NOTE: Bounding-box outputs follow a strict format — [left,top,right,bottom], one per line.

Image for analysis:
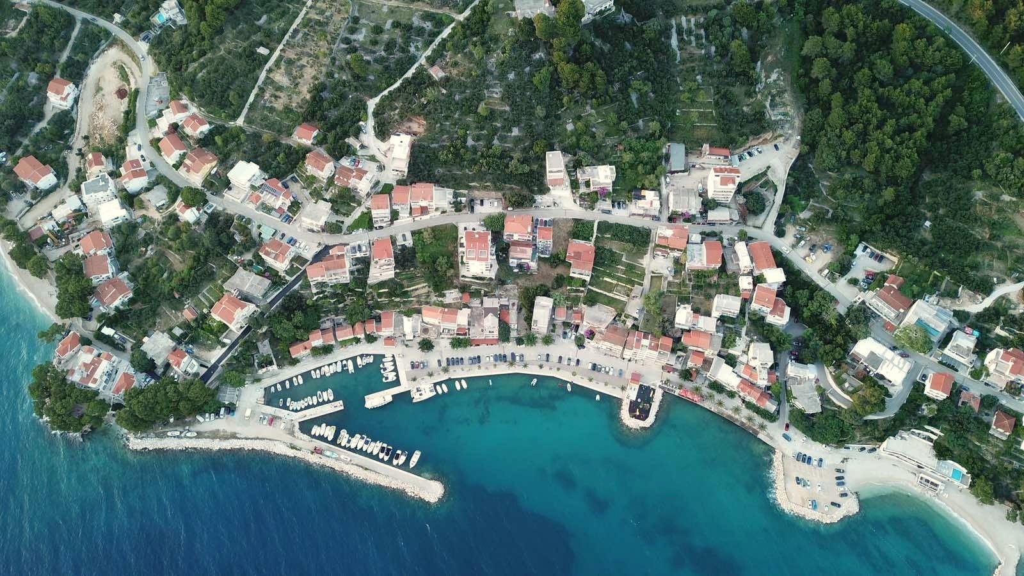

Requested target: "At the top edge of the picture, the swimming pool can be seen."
[151,11,169,31]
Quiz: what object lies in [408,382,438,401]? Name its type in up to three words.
boat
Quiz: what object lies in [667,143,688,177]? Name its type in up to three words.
shed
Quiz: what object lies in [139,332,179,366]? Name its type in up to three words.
building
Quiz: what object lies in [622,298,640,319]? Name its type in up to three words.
house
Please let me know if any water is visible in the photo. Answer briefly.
Yes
